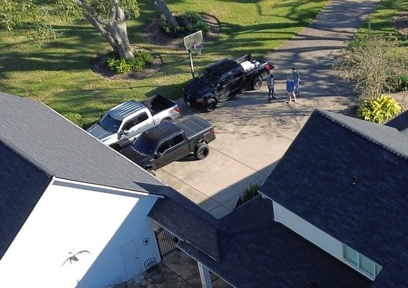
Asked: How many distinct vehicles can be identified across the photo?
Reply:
three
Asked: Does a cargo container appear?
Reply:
No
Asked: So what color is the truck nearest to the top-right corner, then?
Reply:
black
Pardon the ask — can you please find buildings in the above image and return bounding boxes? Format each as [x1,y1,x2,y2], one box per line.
[0,94,170,288]
[174,109,408,288]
